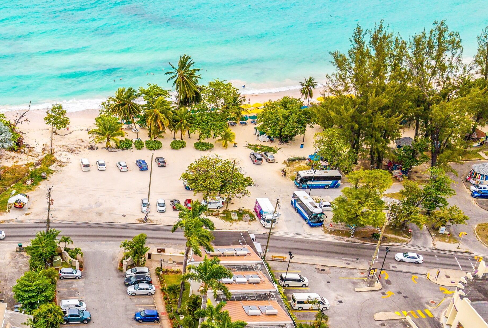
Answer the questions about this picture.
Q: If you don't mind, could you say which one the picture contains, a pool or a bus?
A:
bus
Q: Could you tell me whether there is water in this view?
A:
Yes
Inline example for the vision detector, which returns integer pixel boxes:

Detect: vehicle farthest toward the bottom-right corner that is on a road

[394,252,424,264]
